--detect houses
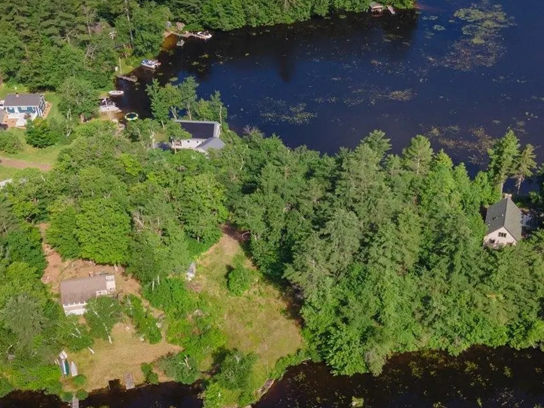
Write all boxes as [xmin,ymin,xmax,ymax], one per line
[62,270,119,316]
[173,119,225,158]
[4,92,44,119]
[479,193,536,252]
